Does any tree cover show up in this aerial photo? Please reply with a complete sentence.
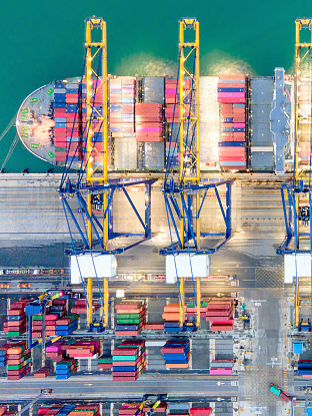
No, the scene doesn't show any tree cover.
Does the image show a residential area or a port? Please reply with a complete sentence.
This looks like a port.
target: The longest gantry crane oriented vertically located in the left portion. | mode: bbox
[54,18,164,332]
